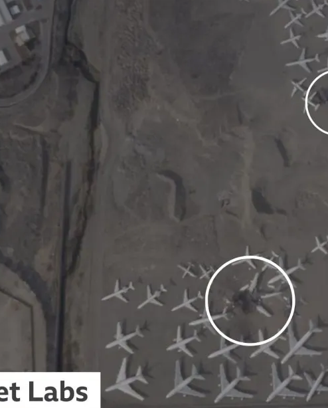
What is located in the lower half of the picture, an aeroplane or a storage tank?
aeroplane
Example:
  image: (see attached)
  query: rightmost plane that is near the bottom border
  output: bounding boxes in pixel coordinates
[304,368,328,402]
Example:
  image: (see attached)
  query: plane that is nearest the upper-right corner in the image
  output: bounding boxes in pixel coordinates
[305,0,328,18]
